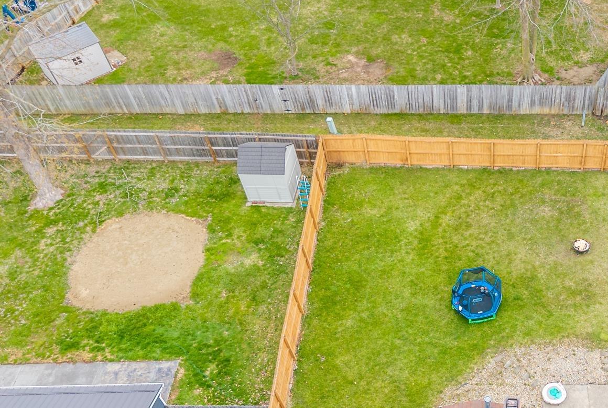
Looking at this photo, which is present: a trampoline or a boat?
trampoline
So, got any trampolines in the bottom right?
Yes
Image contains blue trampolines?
Yes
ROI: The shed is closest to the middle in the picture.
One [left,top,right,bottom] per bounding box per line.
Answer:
[233,146,304,207]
